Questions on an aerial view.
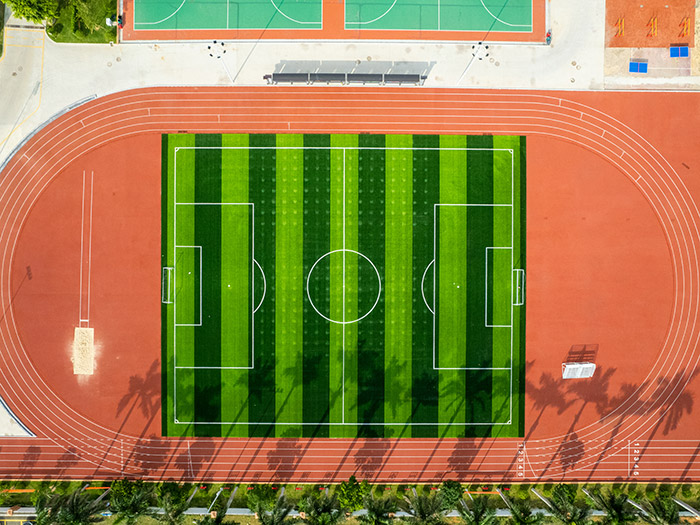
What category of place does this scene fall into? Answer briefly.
sports ground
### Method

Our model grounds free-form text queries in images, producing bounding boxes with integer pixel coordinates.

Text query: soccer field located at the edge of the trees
[161,134,526,438]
